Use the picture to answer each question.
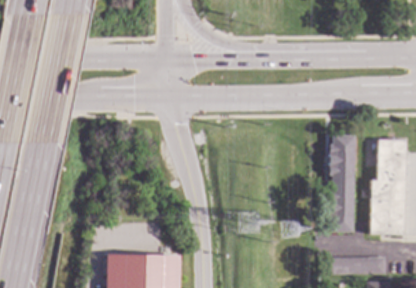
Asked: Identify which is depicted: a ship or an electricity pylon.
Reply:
electricity pylon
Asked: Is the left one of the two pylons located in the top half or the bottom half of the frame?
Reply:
bottom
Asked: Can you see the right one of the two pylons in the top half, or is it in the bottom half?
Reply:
bottom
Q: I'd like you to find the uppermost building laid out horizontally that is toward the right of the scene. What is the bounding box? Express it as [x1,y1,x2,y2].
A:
[330,256,387,275]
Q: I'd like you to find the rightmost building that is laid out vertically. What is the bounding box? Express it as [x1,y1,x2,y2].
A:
[367,138,408,235]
